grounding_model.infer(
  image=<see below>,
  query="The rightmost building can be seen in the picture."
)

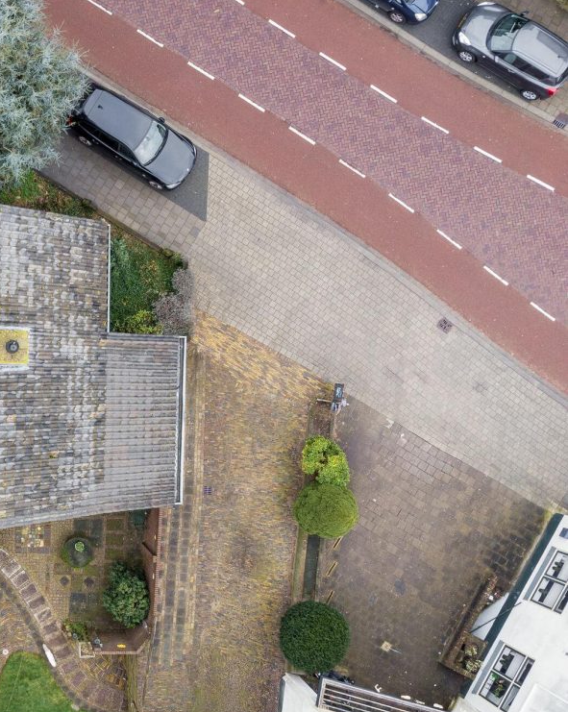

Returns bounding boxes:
[444,504,568,712]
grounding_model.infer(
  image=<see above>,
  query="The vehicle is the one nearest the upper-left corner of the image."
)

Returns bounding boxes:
[68,81,198,194]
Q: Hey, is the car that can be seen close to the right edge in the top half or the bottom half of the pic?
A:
top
